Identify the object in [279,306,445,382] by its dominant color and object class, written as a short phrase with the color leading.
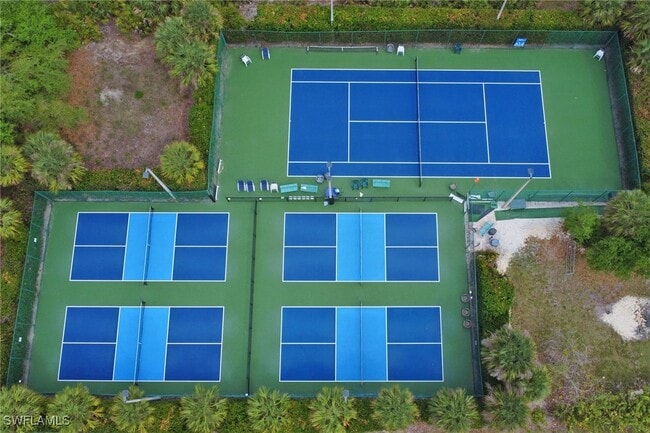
blue sports court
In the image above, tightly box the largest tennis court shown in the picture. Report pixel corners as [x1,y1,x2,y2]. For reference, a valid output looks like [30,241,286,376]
[218,48,621,202]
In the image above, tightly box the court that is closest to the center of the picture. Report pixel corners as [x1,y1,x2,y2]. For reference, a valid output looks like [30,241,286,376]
[282,213,440,281]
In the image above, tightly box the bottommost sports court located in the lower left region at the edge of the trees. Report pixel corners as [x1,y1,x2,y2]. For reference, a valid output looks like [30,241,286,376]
[56,306,224,381]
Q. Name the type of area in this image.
sports ground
